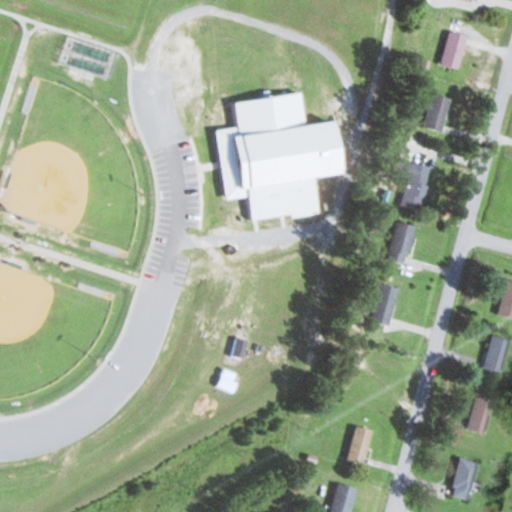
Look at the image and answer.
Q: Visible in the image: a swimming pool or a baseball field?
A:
baseball field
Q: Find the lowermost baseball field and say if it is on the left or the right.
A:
left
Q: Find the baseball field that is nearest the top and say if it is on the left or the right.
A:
left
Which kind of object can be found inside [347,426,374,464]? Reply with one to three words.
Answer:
house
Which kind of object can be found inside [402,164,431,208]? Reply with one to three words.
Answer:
house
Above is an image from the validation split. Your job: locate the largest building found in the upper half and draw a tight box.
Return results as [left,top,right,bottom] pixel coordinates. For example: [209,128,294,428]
[216,90,347,222]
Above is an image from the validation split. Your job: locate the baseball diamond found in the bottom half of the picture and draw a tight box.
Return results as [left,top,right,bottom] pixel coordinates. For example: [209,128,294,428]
[0,263,112,400]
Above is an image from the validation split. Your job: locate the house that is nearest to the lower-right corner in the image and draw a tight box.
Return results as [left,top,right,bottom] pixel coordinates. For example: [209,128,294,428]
[452,458,479,502]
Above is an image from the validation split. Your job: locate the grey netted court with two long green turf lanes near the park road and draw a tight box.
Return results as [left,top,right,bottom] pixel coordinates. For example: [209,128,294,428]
[58,36,116,80]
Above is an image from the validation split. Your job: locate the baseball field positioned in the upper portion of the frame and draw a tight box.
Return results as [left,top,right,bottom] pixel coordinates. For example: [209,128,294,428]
[0,78,138,254]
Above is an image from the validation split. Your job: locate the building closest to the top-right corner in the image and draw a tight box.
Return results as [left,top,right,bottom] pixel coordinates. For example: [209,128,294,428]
[442,32,468,70]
